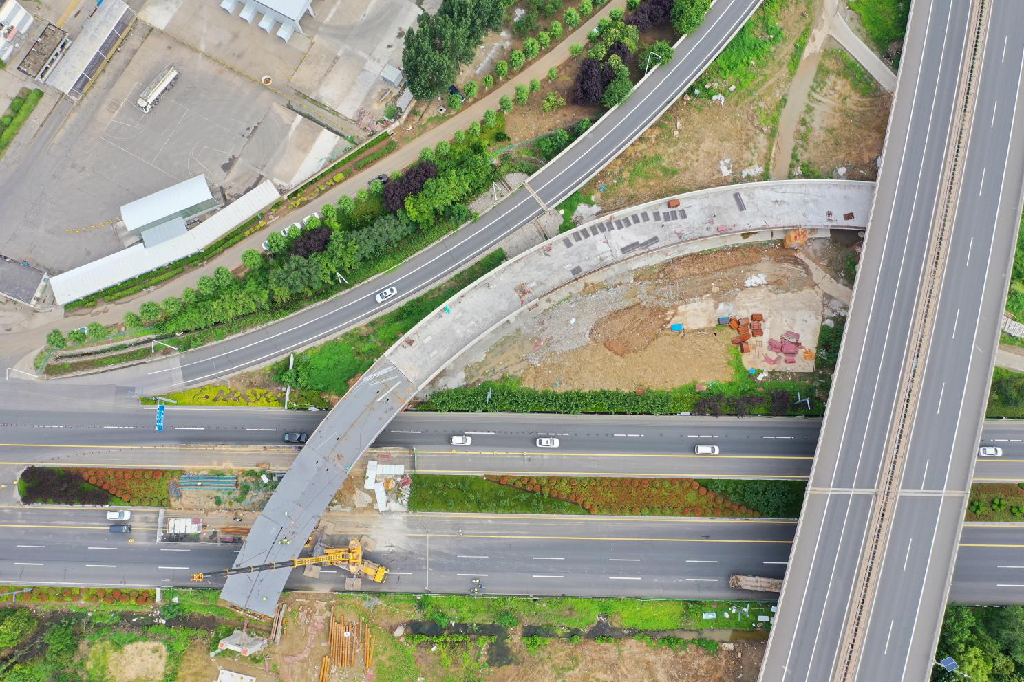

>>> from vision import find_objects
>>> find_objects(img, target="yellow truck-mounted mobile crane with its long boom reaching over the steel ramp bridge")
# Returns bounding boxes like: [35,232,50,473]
[192,525,390,588]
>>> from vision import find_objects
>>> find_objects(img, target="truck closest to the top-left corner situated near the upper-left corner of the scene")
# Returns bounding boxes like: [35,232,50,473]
[138,64,177,109]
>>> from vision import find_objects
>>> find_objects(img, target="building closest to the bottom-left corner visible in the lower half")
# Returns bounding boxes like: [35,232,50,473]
[168,517,209,534]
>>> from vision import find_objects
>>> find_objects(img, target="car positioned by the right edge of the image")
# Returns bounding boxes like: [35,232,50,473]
[978,446,1002,458]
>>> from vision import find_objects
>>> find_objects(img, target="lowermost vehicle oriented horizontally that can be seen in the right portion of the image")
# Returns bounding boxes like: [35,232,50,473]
[725,573,783,592]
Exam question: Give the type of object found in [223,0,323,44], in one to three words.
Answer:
building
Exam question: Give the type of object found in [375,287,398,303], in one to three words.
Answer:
car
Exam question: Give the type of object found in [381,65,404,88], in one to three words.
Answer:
building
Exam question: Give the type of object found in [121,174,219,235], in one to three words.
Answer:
shed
